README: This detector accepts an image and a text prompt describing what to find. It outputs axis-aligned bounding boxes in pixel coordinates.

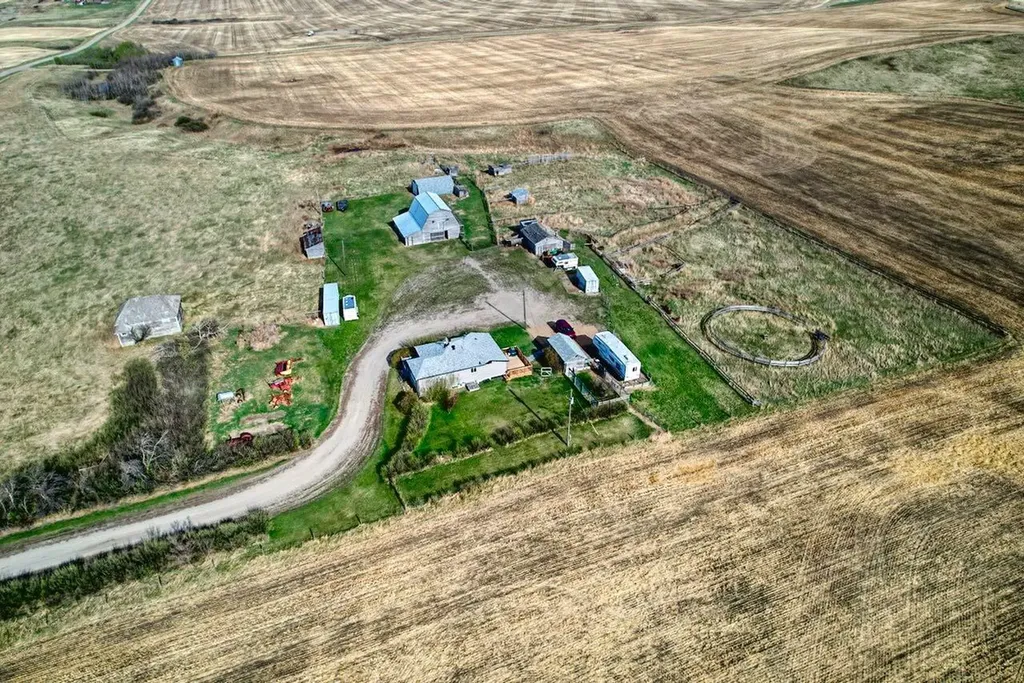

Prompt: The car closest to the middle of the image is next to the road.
[548,319,575,335]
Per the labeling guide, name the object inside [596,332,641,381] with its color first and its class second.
white trailer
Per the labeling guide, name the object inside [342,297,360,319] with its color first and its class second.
white vehicle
